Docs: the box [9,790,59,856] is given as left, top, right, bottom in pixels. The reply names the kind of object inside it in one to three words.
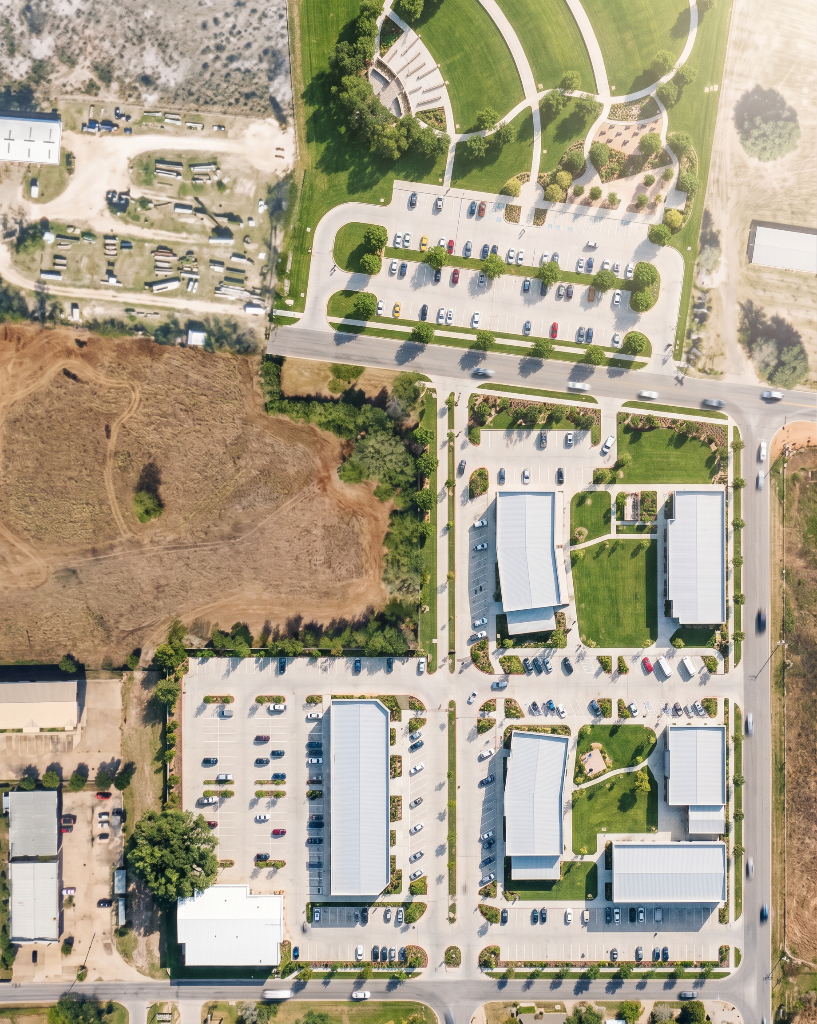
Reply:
building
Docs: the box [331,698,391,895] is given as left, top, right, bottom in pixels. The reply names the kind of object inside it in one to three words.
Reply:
building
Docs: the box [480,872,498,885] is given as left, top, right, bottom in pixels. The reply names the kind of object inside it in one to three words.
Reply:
vehicle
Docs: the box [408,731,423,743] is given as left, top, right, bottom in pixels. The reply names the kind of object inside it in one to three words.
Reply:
vehicle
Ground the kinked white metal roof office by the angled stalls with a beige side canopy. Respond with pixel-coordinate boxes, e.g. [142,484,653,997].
[496,491,570,635]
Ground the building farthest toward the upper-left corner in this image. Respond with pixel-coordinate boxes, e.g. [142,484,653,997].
[0,117,62,167]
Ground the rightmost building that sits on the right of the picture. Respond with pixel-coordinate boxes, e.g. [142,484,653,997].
[751,226,817,274]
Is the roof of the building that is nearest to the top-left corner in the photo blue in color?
No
